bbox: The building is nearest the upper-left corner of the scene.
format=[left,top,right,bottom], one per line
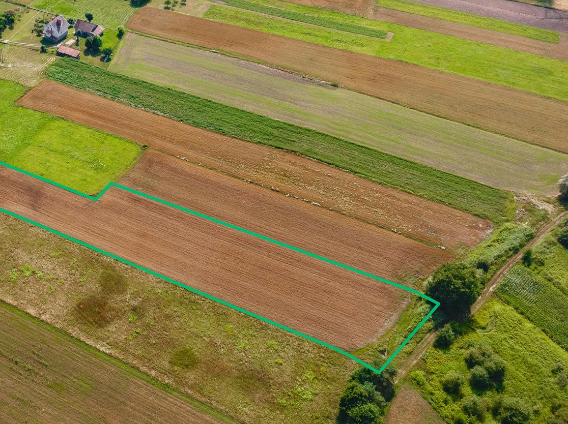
[42,15,71,42]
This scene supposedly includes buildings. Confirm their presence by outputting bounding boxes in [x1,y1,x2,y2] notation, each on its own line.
[73,19,105,37]
[55,45,81,59]
[42,15,71,42]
